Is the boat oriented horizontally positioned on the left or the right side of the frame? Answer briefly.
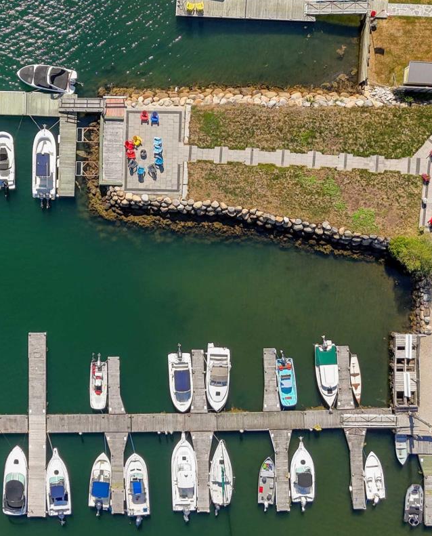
left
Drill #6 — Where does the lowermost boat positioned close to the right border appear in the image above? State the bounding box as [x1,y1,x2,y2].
[406,484,425,528]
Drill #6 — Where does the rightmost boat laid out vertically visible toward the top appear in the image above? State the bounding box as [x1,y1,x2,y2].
[30,115,60,210]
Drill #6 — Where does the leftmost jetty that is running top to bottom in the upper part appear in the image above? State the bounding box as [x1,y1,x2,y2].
[57,117,77,197]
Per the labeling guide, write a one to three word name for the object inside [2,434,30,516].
boat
